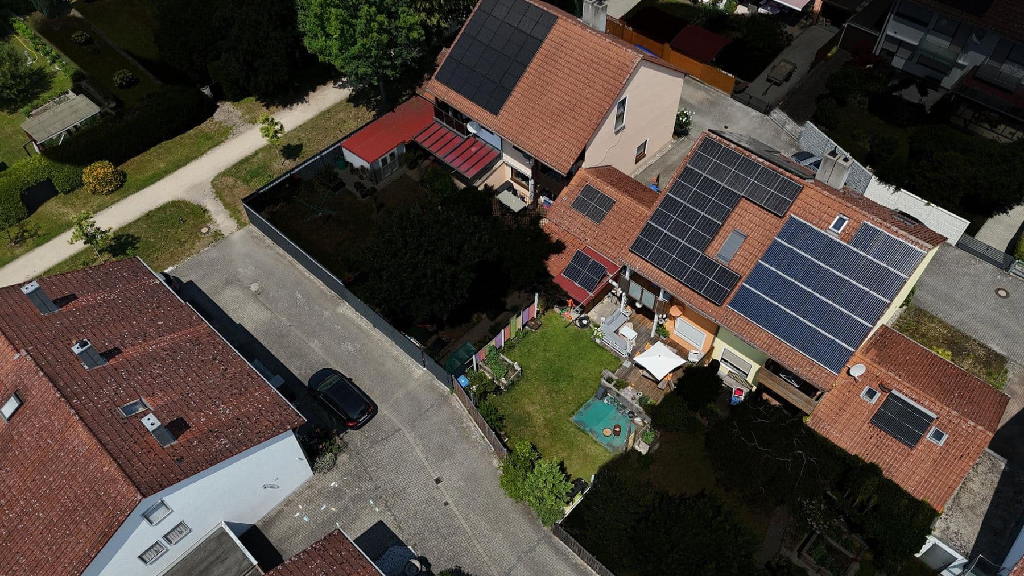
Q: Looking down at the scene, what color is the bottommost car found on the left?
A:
black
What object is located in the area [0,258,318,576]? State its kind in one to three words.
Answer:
house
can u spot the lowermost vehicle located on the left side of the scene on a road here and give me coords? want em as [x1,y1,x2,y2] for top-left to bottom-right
[300,361,372,430]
